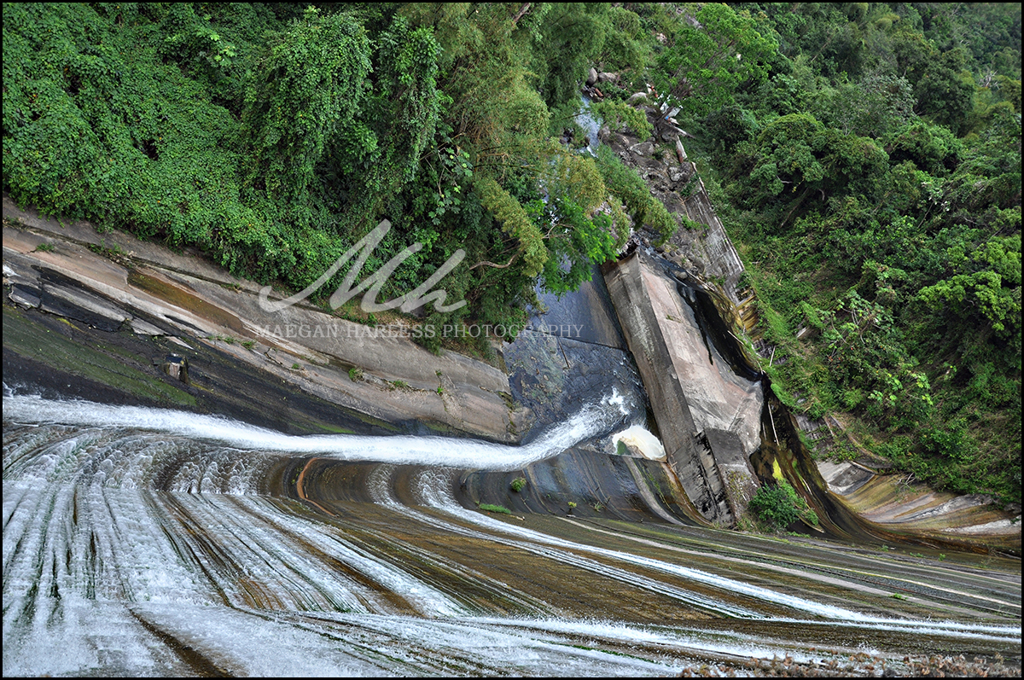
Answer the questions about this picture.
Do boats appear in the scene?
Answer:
No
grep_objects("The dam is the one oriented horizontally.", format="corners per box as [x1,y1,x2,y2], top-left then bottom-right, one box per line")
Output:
[0,425,1024,680]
